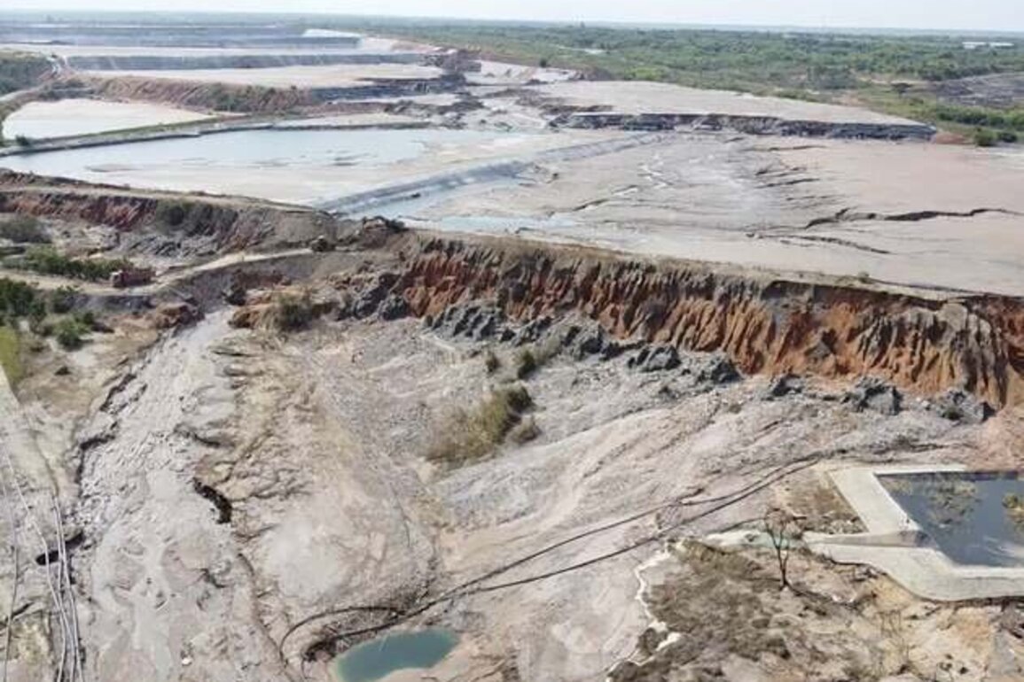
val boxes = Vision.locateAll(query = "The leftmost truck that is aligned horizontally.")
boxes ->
[107,262,155,286]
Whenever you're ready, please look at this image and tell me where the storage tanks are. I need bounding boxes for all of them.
[801,467,1024,612]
